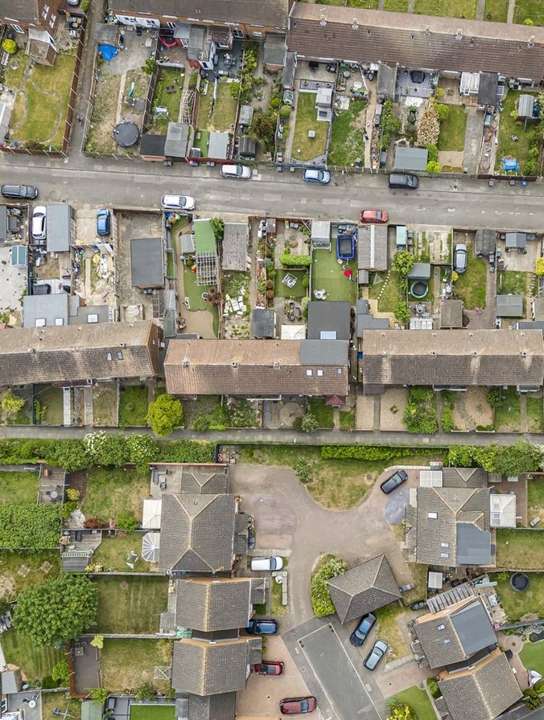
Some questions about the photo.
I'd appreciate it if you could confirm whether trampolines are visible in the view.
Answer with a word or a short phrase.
Yes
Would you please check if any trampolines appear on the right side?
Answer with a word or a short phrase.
Yes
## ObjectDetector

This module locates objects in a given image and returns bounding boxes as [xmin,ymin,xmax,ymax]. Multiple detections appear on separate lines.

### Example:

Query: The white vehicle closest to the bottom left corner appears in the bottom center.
[251,555,285,573]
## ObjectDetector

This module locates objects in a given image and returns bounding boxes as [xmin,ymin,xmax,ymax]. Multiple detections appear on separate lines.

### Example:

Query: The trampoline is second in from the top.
[335,231,354,258]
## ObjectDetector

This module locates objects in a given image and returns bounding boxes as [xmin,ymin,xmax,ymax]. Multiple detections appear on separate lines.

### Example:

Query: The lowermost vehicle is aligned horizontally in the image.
[278,695,318,713]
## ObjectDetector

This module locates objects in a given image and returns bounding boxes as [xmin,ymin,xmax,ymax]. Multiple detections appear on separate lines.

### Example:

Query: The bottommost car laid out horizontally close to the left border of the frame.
[1,184,38,201]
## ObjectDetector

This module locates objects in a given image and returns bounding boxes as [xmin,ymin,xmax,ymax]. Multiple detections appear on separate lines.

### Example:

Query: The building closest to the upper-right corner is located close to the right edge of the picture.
[498,22,544,87]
